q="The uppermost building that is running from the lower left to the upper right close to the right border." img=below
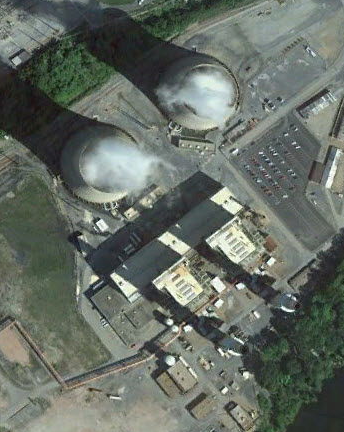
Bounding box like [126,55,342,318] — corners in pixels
[300,93,335,119]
